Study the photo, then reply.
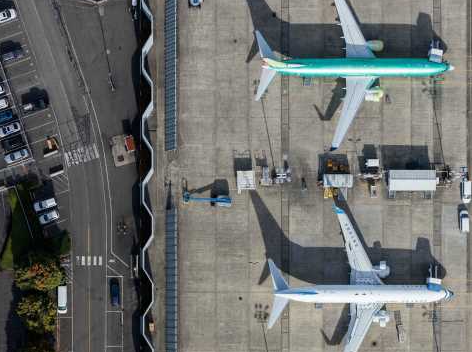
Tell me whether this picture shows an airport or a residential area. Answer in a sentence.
This looks like an airport.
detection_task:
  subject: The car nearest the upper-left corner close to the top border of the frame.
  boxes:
[0,10,16,24]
